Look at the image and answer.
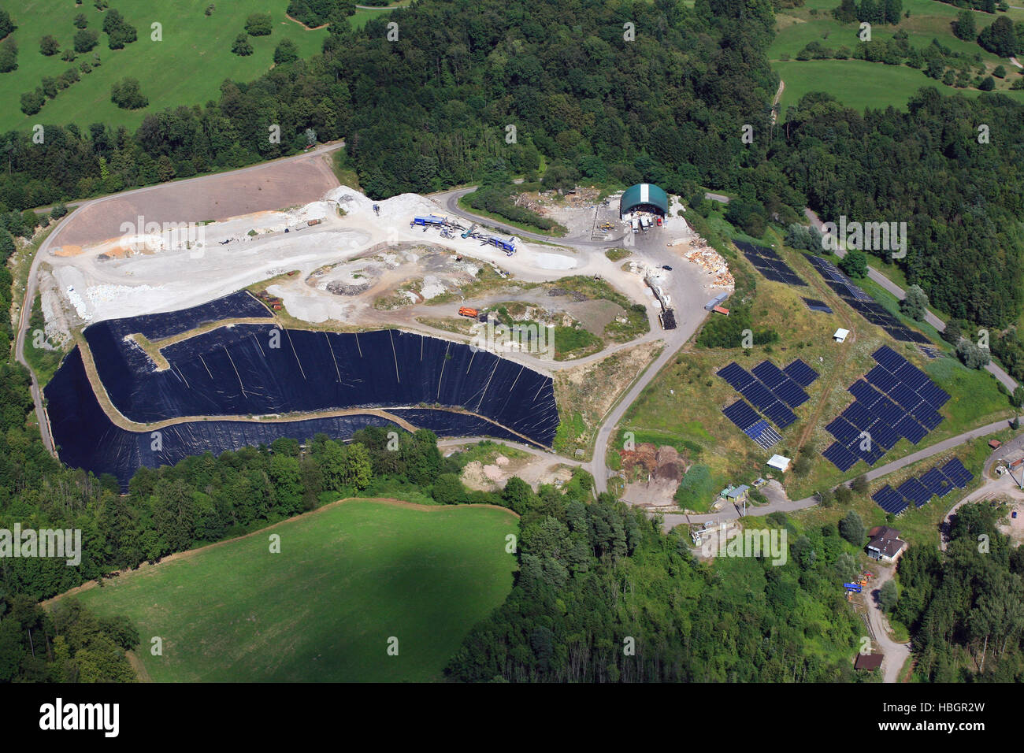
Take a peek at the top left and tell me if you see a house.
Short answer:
No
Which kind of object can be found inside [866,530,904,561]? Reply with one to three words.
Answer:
house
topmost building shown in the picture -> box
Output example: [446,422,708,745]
[622,181,669,215]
